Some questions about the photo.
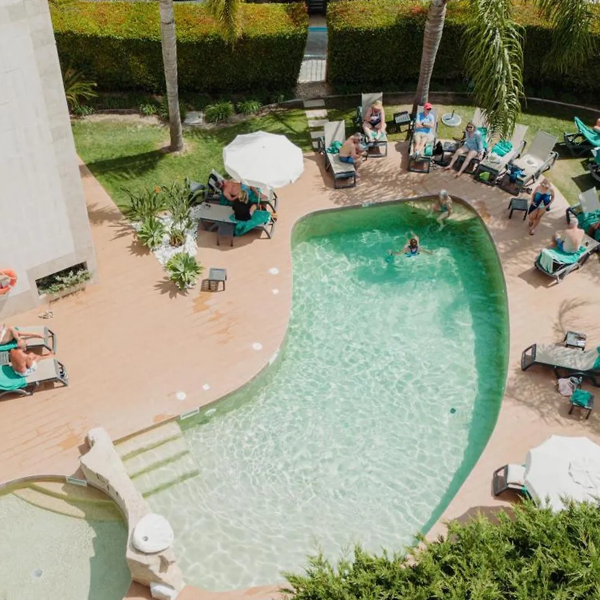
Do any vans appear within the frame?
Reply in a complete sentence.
No, no van can be seen from above.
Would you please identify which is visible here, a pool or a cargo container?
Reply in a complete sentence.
Looking from above, you can make out a pool.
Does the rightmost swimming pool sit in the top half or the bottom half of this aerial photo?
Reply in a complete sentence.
The bottom half of the photo is where the rightmost swimming pool is.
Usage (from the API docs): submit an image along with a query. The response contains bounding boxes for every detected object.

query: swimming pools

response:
[114,193,513,595]
[0,472,132,600]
